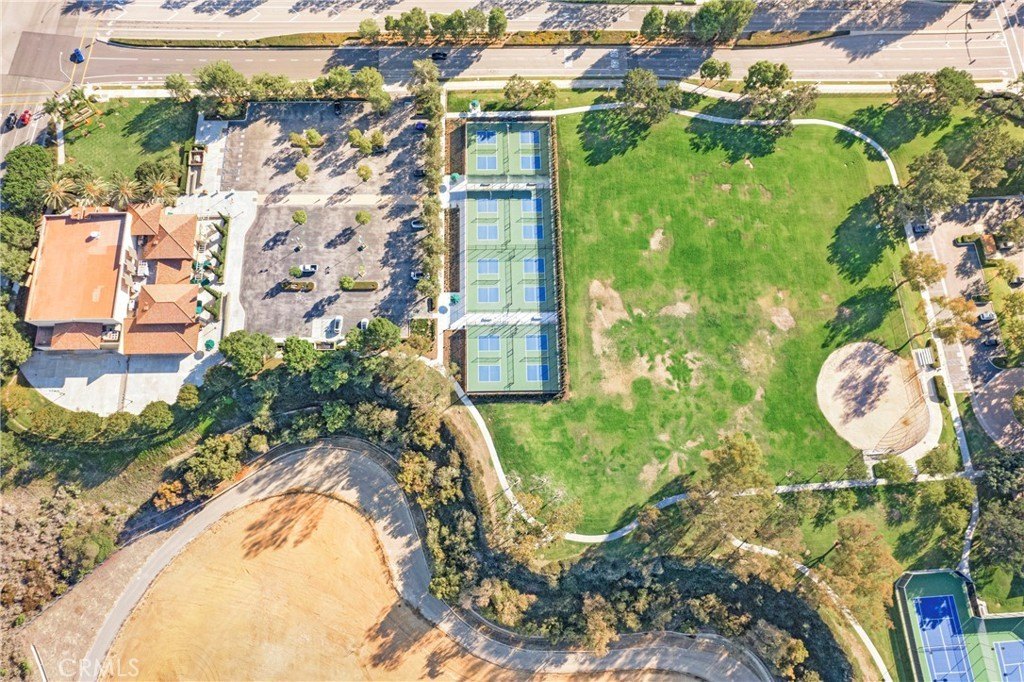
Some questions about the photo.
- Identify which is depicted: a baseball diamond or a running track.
baseball diamond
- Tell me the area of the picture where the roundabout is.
right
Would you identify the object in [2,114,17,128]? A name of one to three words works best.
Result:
car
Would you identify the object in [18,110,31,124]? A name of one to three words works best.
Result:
vehicle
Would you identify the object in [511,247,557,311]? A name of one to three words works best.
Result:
sports court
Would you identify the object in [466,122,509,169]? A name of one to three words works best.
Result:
sports court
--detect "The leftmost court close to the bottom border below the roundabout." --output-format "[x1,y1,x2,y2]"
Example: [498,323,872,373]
[905,572,986,682]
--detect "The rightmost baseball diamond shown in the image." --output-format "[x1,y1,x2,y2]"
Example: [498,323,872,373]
[817,342,930,454]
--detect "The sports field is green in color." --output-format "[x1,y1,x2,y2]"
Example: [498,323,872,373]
[473,107,931,534]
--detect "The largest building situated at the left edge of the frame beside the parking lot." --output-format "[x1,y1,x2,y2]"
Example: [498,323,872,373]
[20,202,209,361]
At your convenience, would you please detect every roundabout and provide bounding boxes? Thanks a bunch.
[965,336,1024,459]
